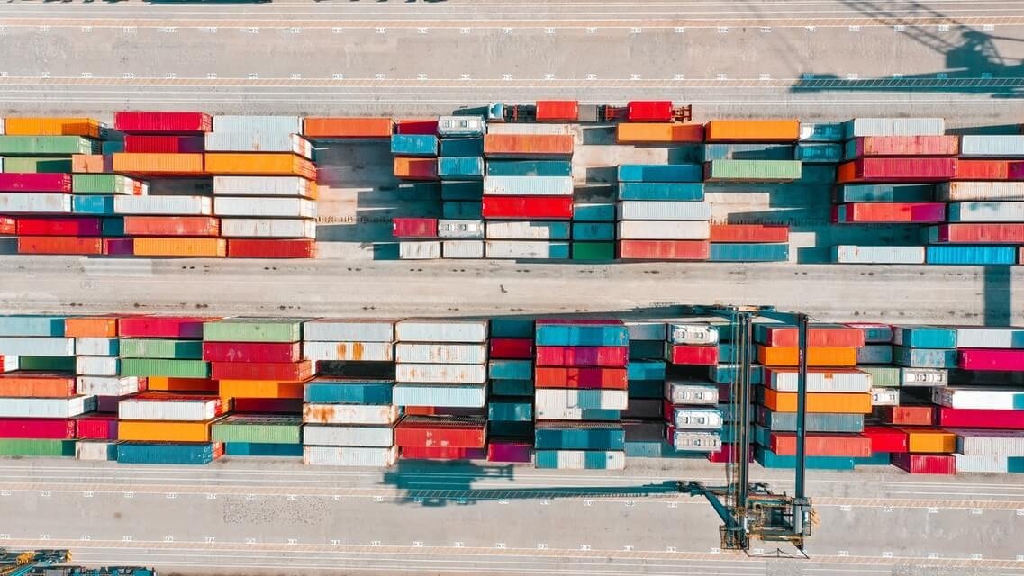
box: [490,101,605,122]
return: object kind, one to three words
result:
truck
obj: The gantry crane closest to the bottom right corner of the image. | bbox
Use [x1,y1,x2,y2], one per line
[678,302,819,561]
